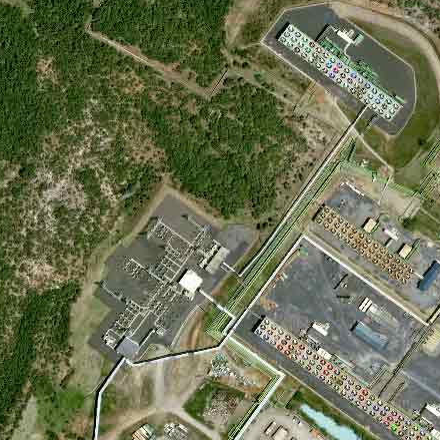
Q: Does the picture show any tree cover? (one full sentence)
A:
Yes, there's tree cover in this view.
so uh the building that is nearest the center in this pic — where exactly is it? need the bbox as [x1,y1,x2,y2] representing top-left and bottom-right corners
[204,245,228,273]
